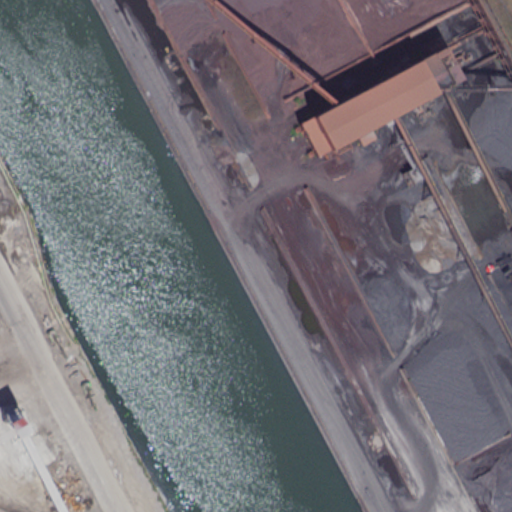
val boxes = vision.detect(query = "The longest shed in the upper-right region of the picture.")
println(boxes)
[304,46,460,158]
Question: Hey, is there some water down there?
Yes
